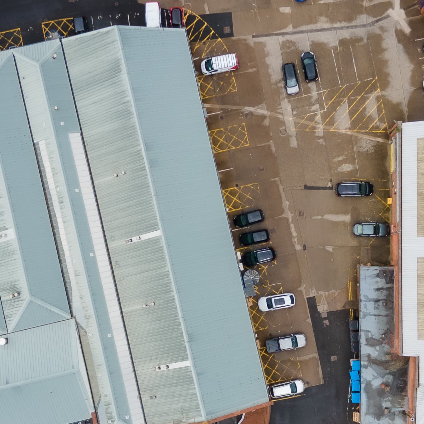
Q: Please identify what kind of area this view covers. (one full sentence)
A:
This looks like an industrial area.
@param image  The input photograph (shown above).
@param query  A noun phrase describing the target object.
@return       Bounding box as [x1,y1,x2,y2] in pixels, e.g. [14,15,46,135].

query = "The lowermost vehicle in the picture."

[269,379,305,398]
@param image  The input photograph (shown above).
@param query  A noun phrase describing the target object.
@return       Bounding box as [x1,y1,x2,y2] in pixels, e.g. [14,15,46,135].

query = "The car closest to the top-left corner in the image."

[71,16,89,34]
